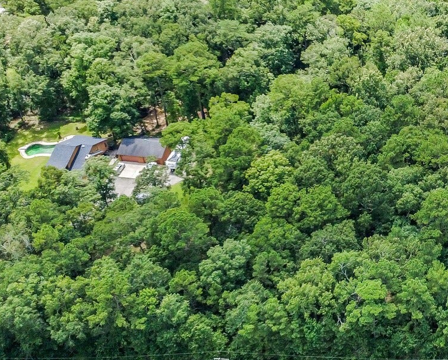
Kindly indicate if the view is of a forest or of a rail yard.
forest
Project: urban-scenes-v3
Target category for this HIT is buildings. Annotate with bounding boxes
[116,135,170,163]
[43,137,108,172]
